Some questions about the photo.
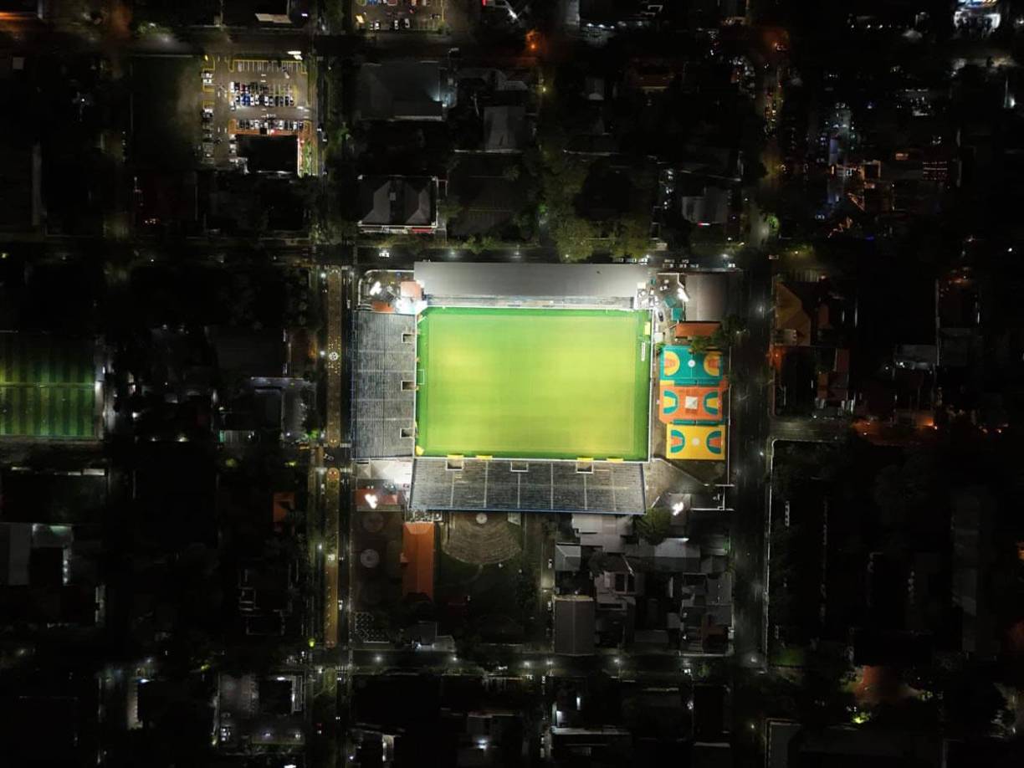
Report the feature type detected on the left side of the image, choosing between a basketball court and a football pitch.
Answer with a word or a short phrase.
football pitch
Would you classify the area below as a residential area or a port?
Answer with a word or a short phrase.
residential area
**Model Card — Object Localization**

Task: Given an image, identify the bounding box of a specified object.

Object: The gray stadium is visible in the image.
[351,262,657,514]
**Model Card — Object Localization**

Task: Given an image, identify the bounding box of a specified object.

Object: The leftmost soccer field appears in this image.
[0,332,95,437]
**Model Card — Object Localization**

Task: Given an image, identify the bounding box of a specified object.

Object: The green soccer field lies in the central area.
[417,307,649,459]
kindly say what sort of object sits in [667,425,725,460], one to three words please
basketball court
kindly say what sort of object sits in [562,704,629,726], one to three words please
house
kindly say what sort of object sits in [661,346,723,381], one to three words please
basketball court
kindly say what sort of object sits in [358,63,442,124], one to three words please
building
